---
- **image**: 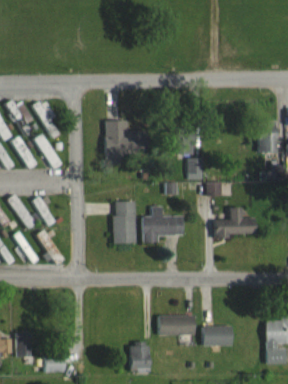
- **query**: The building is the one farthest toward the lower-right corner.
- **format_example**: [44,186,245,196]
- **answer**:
[266,320,288,364]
